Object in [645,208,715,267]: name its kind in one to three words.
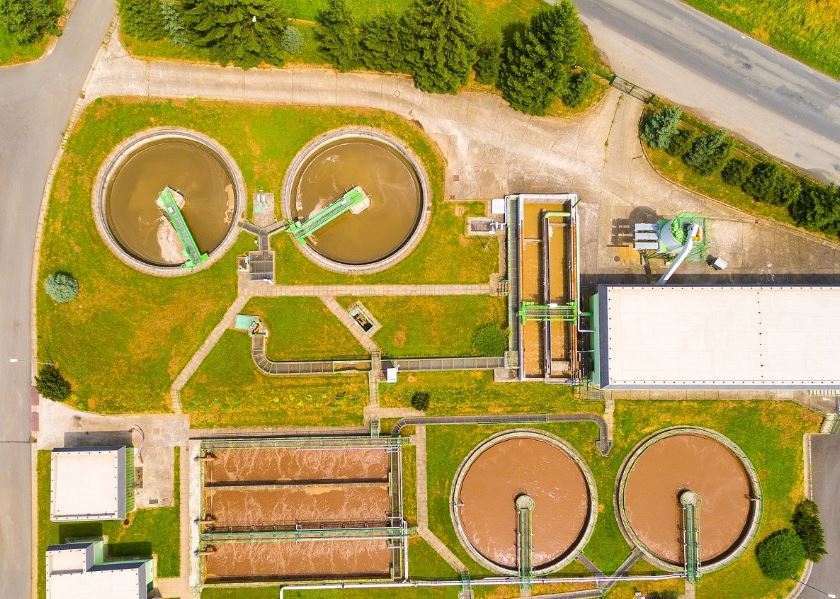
silo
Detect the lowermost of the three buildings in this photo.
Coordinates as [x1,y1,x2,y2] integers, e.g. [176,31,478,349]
[44,543,154,599]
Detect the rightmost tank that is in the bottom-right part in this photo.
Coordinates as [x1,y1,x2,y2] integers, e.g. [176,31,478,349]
[611,424,760,574]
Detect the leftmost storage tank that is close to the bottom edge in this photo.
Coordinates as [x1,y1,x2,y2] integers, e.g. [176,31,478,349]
[450,427,598,576]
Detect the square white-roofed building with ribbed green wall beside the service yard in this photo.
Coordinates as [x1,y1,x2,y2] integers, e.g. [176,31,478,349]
[50,446,135,521]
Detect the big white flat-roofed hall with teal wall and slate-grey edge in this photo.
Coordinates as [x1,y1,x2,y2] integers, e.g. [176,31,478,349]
[590,286,840,389]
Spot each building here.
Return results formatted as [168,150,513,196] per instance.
[50,446,135,521]
[44,543,154,599]
[590,286,840,389]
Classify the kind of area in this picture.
industrial area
